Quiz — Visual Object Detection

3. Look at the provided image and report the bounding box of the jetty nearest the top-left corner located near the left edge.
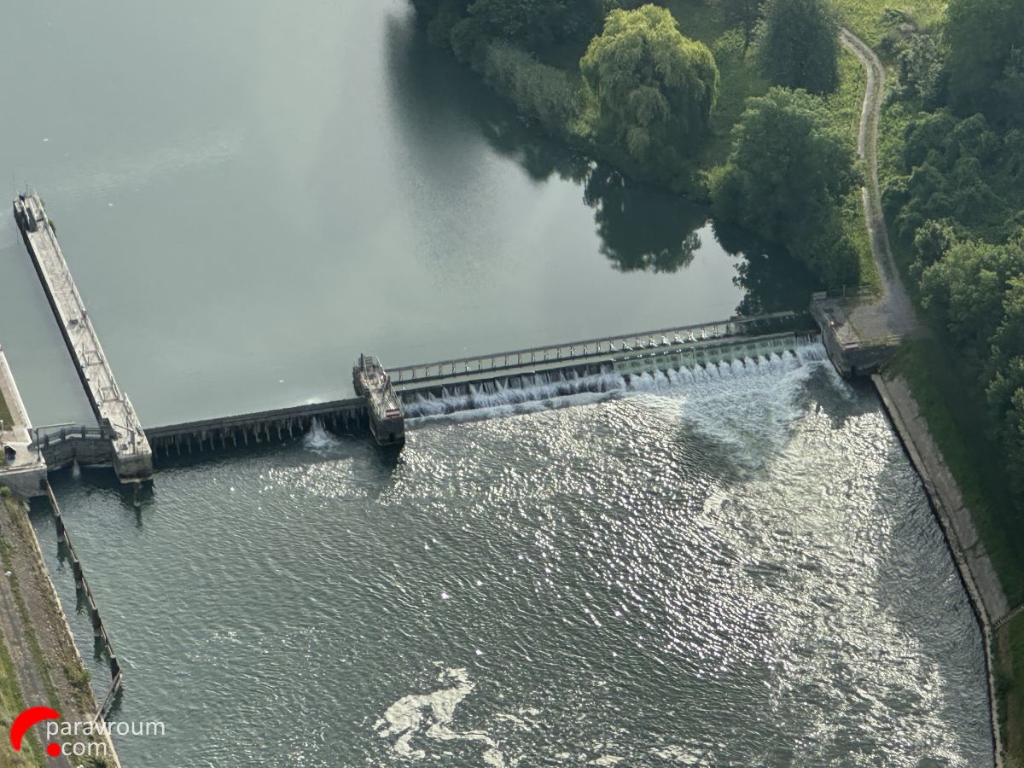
[11,175,156,484]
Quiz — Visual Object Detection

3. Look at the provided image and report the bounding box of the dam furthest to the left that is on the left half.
[146,400,369,465]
